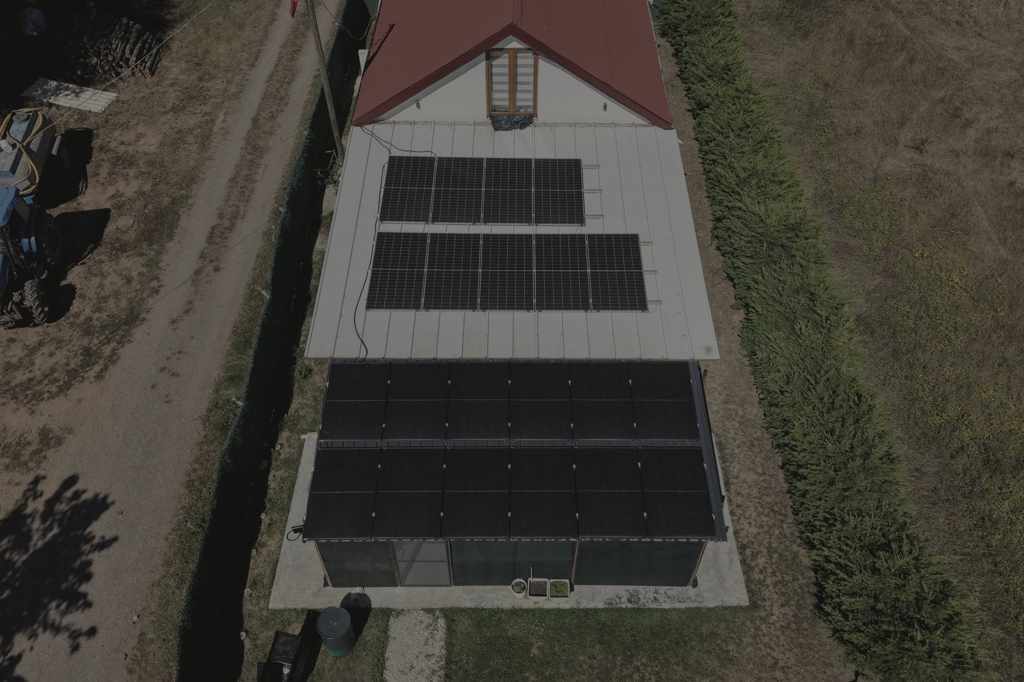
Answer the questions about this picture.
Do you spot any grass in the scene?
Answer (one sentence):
Yes, grass shows up in the scene.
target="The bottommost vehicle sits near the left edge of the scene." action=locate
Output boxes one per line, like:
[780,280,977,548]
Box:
[0,182,69,323]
